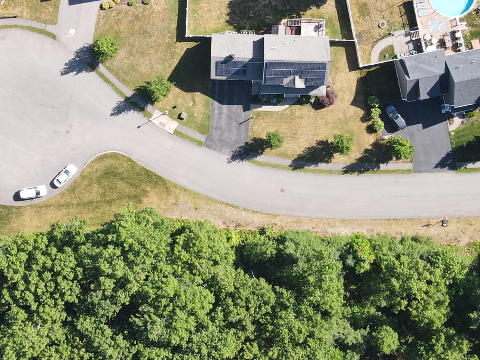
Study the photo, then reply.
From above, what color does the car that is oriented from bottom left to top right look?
white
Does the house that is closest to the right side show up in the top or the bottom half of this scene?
top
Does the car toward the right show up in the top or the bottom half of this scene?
top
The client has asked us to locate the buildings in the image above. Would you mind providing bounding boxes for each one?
[396,49,480,113]
[209,33,331,98]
